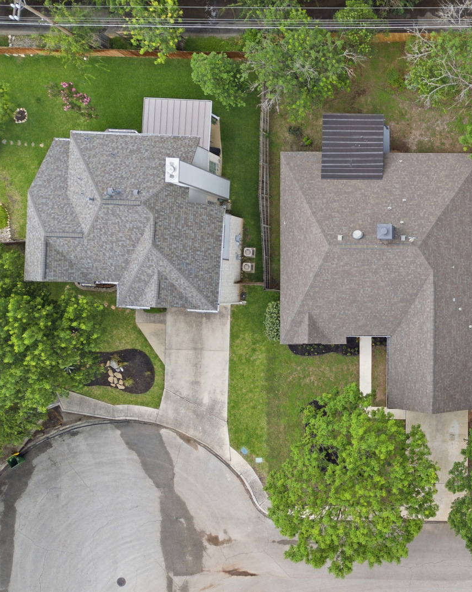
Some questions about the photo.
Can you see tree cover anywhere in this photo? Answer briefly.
Yes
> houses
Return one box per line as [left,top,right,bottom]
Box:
[279,151,472,414]
[24,128,244,315]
